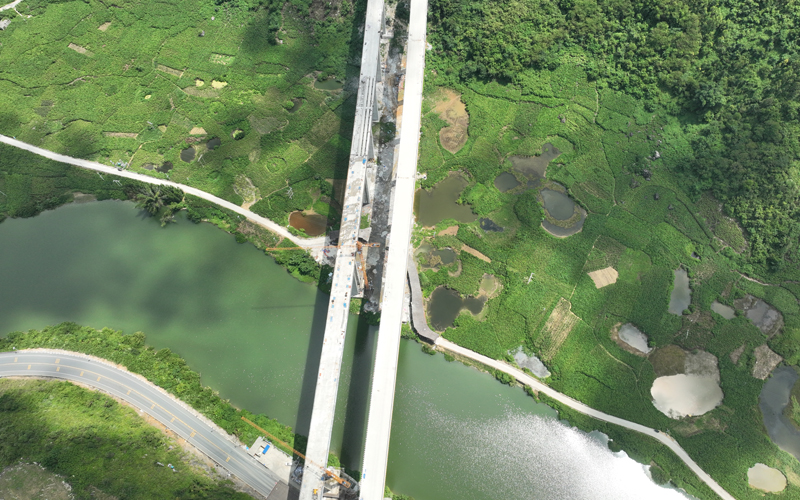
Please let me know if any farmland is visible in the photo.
Yes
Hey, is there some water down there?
Yes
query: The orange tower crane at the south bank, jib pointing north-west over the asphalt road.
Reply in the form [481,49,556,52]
[241,416,351,490]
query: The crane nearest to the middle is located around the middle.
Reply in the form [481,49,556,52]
[267,241,380,292]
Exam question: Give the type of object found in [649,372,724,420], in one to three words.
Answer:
pond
